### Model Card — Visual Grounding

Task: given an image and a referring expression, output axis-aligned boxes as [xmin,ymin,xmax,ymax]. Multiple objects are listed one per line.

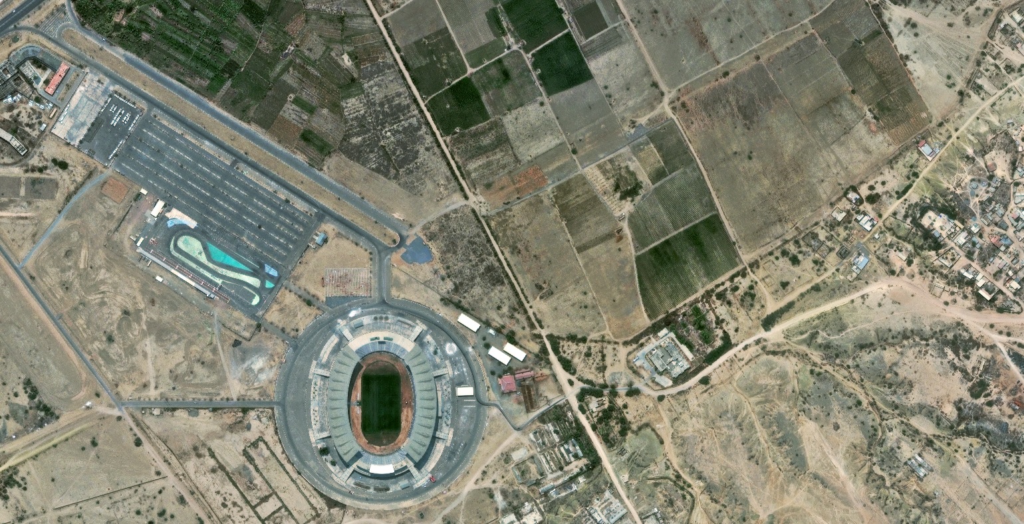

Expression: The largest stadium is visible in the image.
[325,330,436,474]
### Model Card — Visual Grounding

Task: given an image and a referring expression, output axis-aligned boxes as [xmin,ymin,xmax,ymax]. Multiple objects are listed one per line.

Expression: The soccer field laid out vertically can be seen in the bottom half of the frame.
[361,361,401,446]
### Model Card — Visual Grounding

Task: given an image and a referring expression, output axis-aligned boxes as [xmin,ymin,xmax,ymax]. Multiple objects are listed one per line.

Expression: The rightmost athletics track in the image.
[349,351,413,455]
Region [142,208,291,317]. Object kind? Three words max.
race track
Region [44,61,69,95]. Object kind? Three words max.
building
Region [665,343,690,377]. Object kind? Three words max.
house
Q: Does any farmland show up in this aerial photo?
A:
Yes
